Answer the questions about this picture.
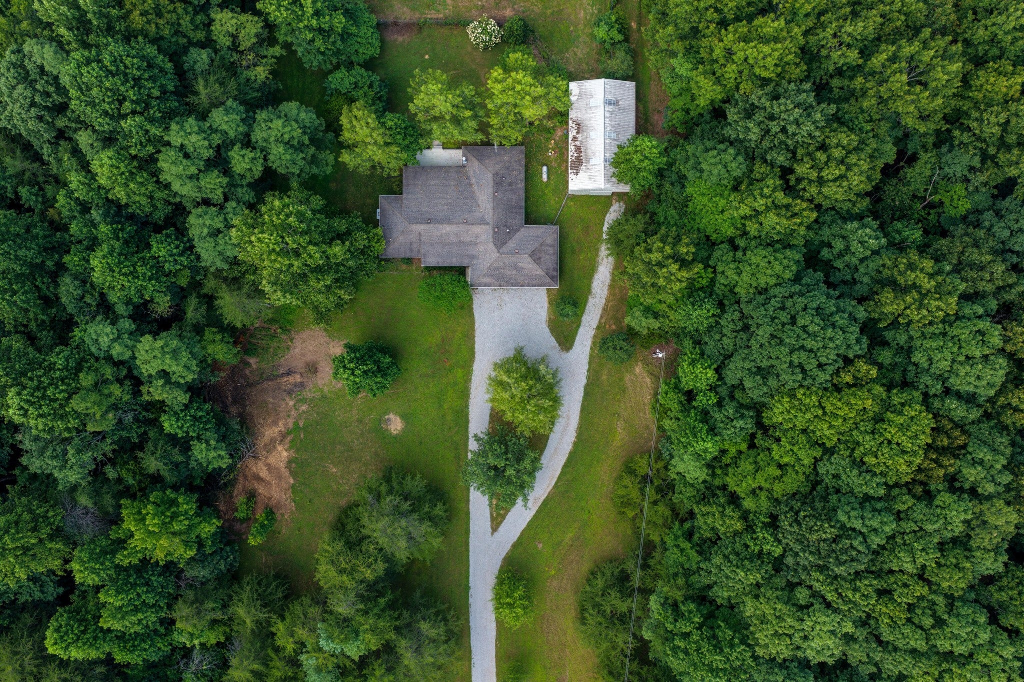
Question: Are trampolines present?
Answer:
No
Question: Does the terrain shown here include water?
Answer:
No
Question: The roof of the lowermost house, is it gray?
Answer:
Yes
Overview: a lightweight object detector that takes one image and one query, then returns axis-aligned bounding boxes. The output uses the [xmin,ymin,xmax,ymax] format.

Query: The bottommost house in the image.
[379,145,560,289]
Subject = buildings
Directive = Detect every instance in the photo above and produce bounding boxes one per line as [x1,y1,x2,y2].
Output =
[568,78,636,197]
[379,145,560,289]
